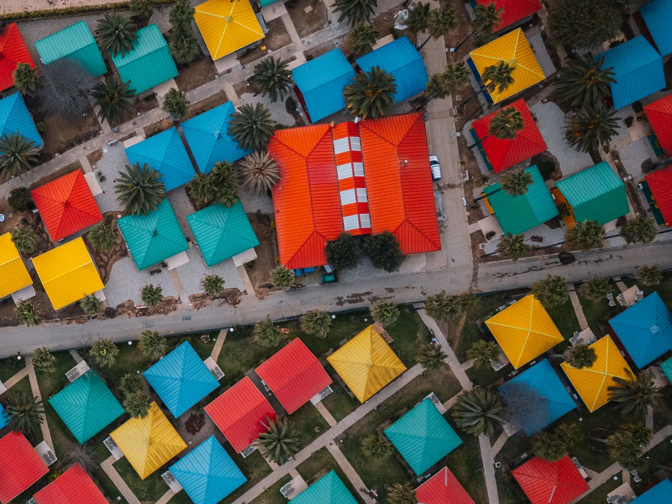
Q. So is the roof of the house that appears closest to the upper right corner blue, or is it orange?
blue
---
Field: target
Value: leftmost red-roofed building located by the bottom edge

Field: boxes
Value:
[0,430,50,504]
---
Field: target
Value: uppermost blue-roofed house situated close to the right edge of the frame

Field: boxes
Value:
[628,0,672,56]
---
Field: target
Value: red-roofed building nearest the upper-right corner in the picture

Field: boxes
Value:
[633,93,672,158]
